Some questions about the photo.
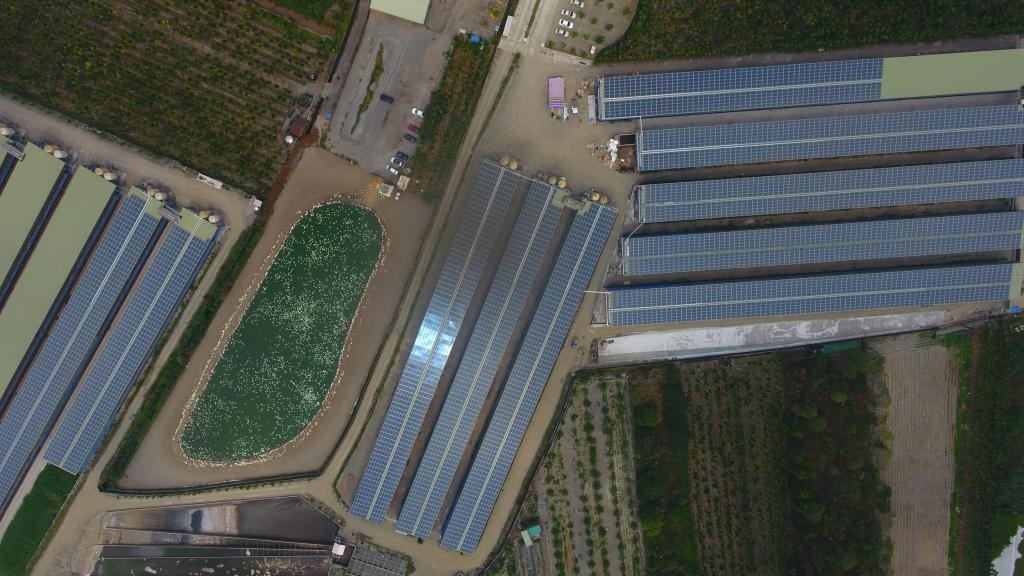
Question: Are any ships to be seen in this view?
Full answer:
No, there is no ship in the image.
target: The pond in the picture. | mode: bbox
[179,202,386,465]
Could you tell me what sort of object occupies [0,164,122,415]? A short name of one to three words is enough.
barn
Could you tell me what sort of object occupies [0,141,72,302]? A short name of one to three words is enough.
barn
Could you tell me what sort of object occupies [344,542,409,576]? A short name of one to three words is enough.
house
